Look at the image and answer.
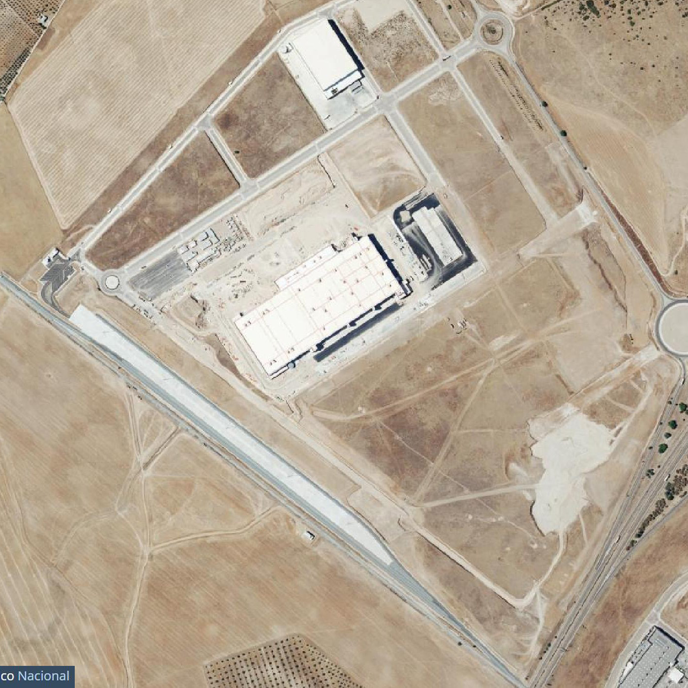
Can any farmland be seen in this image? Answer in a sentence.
Yes, there is farmland in the image.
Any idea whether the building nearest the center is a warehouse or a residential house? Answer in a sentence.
Looking closely, the building nearest the center is a warehouse.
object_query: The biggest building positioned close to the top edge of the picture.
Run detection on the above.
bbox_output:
[291,20,363,99]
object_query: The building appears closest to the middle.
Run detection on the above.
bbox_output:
[234,234,410,380]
